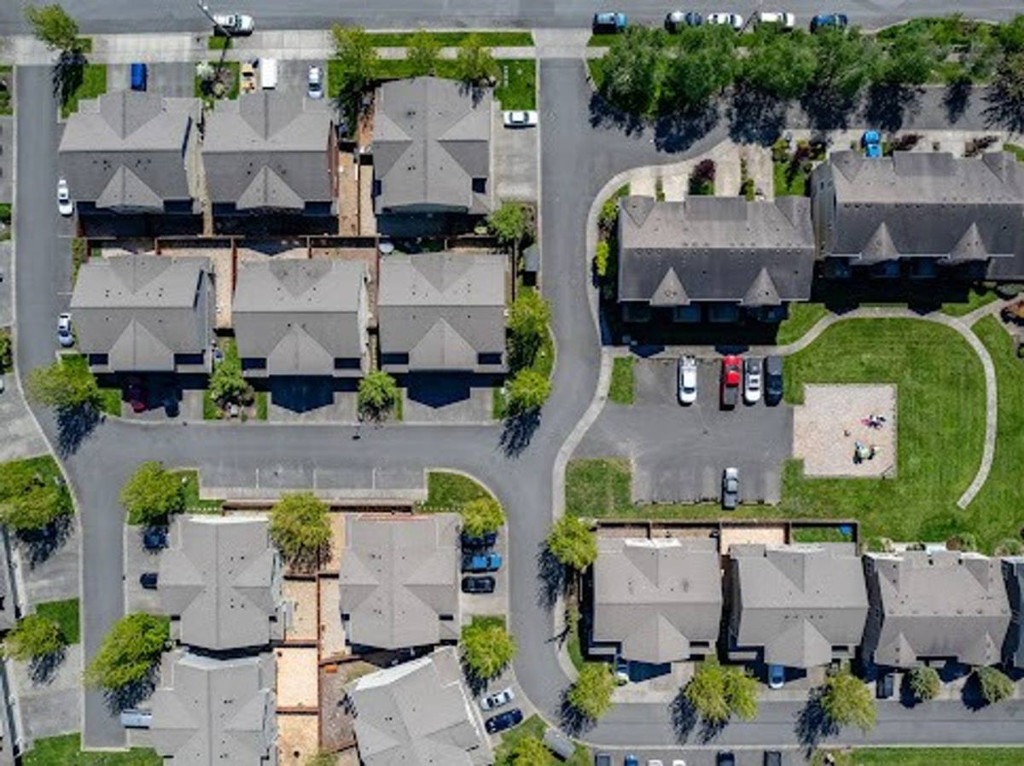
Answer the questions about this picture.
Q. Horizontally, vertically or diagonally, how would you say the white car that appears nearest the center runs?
vertically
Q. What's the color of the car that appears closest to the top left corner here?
blue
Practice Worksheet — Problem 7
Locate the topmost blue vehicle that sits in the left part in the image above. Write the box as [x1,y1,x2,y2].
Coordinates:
[128,58,149,93]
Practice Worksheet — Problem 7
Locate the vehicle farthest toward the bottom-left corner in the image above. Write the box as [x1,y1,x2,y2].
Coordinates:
[121,709,153,728]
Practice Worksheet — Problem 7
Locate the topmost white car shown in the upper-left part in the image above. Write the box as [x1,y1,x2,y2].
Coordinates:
[213,13,253,33]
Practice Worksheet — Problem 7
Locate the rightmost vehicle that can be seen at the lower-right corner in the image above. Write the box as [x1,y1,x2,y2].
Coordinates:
[877,668,893,700]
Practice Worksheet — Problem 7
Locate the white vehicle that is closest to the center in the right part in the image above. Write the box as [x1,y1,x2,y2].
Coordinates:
[677,359,698,402]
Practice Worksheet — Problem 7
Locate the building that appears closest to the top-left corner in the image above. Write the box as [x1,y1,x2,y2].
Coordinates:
[58,89,209,220]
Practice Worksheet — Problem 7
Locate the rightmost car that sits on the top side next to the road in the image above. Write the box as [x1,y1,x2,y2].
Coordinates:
[862,128,880,157]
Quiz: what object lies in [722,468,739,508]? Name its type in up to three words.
vehicle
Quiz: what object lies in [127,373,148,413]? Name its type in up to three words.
car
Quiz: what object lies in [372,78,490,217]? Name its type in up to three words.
house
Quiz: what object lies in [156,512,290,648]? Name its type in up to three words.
house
